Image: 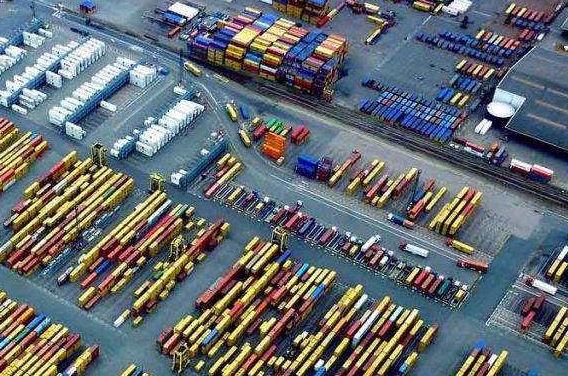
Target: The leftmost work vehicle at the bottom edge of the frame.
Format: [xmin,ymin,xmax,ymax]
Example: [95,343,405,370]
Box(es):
[172,344,191,370]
